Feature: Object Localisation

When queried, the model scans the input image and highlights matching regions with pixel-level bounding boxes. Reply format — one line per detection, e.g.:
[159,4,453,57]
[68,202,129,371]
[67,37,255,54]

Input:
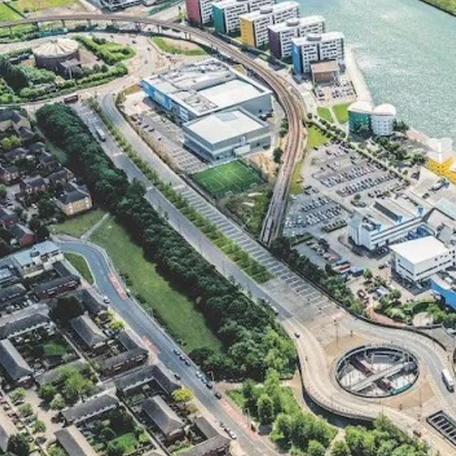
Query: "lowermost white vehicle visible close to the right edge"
[442,366,455,390]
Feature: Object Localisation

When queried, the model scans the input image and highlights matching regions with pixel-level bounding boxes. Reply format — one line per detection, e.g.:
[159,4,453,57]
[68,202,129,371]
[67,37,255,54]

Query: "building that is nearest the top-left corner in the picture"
[30,40,81,79]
